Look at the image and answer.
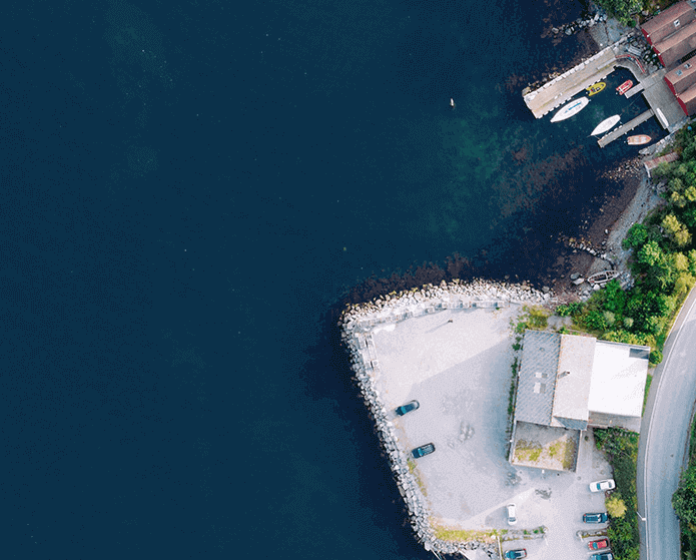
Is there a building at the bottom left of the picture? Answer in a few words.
No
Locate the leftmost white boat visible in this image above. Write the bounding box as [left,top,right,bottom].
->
[551,96,590,122]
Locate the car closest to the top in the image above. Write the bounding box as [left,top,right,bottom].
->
[395,400,419,416]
